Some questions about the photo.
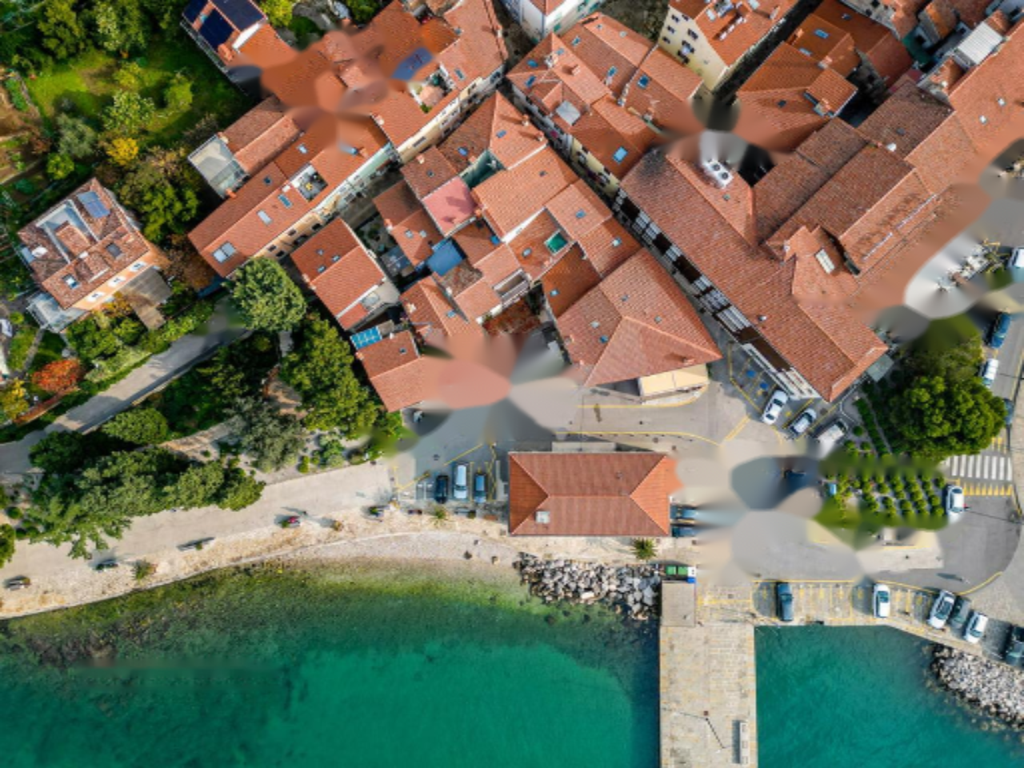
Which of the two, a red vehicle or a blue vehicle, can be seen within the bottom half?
blue vehicle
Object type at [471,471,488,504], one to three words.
car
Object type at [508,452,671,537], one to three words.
building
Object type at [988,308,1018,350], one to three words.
vehicle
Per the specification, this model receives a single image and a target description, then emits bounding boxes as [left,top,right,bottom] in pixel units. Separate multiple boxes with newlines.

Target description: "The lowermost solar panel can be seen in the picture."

[350,326,383,349]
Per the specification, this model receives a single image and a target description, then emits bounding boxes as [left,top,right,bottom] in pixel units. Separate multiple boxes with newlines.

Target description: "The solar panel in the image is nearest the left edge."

[76,190,109,218]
